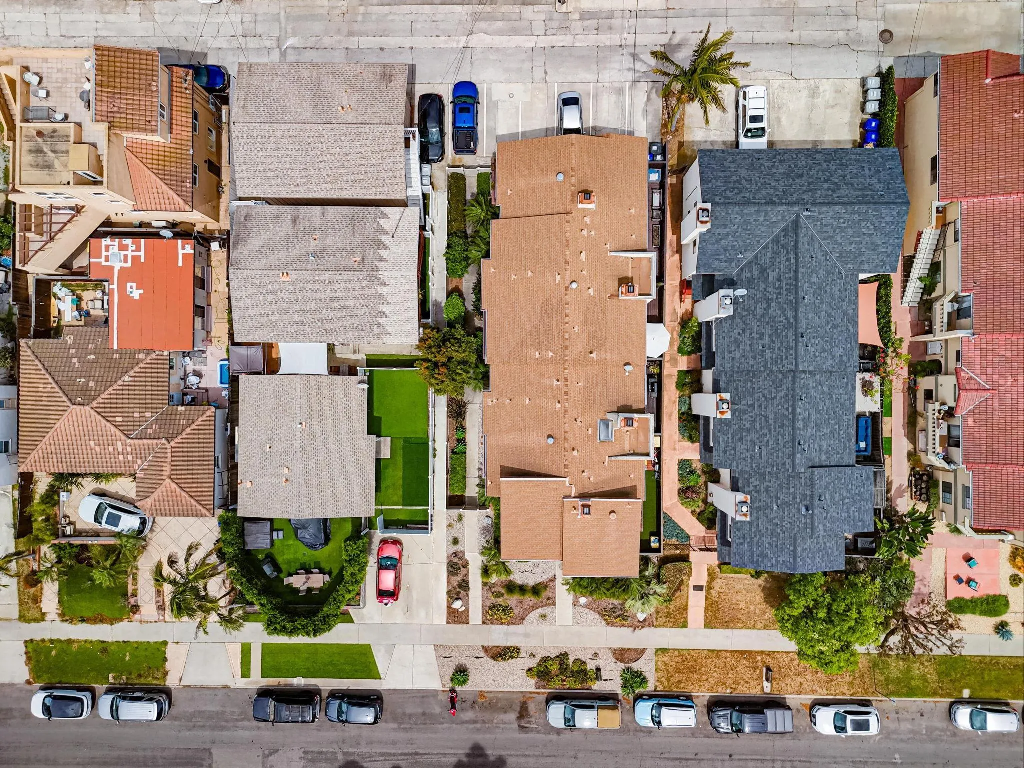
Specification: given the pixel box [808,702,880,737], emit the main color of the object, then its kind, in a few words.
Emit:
white car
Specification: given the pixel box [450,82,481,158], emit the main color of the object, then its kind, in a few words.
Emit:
blue truck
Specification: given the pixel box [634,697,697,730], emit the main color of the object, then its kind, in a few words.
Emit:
white car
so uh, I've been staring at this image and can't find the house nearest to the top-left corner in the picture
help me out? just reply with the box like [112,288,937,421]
[0,44,216,281]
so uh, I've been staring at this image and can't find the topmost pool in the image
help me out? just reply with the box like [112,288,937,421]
[215,360,235,388]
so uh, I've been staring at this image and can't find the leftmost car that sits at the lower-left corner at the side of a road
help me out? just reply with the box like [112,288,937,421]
[33,689,96,721]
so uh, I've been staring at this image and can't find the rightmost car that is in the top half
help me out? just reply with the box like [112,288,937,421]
[735,85,768,149]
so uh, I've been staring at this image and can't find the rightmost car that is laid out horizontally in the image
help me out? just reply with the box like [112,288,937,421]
[948,702,1020,735]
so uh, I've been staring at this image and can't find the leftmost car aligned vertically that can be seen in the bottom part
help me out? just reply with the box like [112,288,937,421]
[374,538,404,605]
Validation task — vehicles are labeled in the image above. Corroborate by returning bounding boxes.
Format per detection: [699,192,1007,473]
[808,702,880,737]
[735,85,768,149]
[326,695,384,728]
[547,697,620,731]
[33,689,96,721]
[167,62,232,95]
[101,690,171,724]
[556,87,586,136]
[948,702,1020,735]
[634,697,697,730]
[450,82,481,158]
[374,538,404,605]
[709,702,793,737]
[448,687,457,716]
[417,94,447,165]
[81,494,159,537]
[254,693,322,726]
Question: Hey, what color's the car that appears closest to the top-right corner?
white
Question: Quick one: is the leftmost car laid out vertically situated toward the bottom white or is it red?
red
